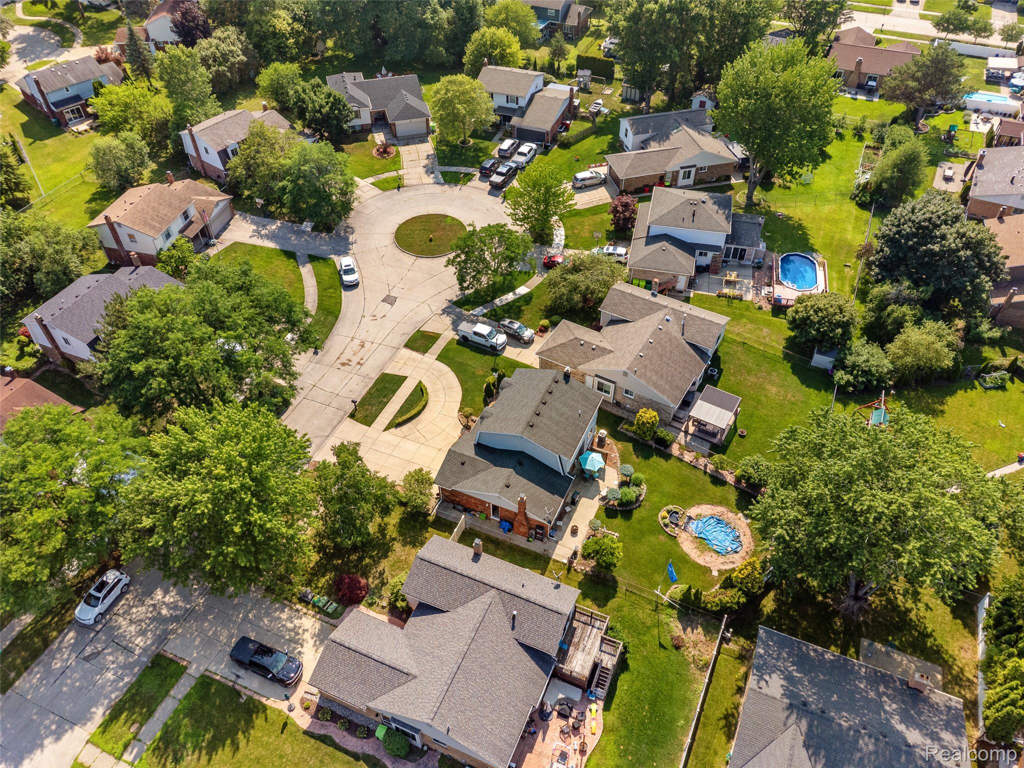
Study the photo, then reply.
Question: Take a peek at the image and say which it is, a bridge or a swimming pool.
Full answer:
I can see a swimming pool in this picture.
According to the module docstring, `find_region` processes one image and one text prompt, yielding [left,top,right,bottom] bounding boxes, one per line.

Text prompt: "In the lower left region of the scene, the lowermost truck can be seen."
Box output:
[226,645,302,693]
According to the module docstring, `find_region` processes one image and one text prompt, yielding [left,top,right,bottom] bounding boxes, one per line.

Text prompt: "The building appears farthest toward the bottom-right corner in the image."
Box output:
[728,625,980,768]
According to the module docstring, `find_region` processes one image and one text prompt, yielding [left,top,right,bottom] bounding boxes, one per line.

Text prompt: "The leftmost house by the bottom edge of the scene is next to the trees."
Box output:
[307,529,582,768]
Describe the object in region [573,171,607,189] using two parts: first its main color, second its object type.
gray car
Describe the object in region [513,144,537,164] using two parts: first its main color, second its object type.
white vehicle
